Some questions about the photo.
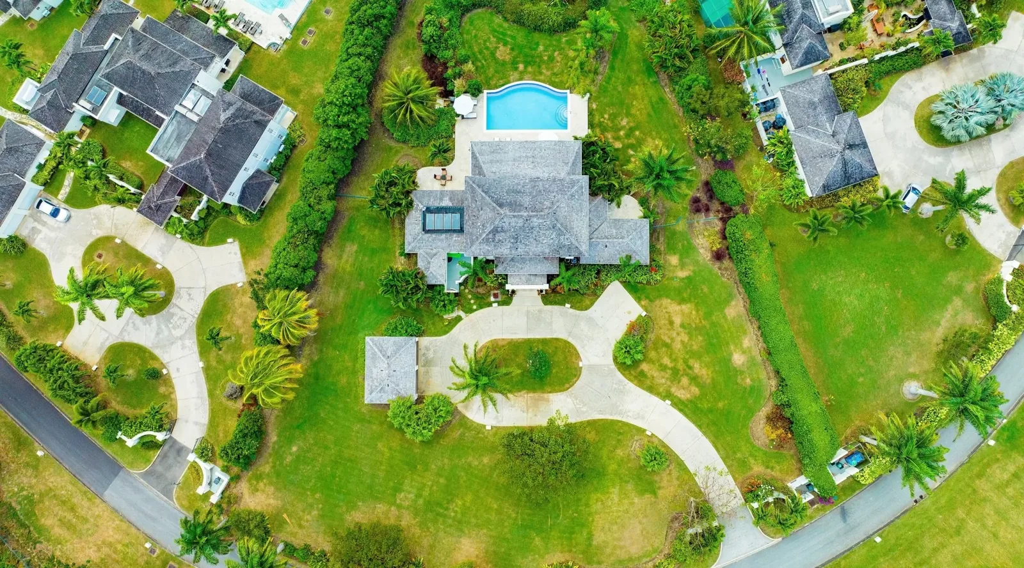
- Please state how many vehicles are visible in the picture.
two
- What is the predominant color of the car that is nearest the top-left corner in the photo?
white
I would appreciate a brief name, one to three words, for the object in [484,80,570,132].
swimming pool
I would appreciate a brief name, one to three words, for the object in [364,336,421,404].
building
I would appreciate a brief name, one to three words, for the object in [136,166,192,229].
building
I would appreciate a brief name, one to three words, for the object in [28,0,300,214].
house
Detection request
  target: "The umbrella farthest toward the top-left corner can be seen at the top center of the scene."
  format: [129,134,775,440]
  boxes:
[453,95,473,115]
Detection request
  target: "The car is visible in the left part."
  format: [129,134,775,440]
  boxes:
[38,200,73,223]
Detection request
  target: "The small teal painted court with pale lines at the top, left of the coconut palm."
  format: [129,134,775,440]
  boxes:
[698,0,733,29]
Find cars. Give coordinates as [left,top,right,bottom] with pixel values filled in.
[38,200,73,223]
[897,182,924,215]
